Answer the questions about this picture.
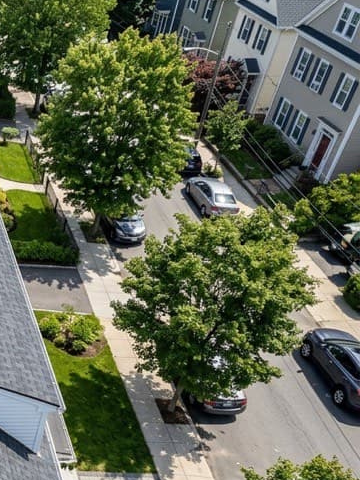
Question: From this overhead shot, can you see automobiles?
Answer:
Yes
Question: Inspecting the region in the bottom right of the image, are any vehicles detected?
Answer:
Yes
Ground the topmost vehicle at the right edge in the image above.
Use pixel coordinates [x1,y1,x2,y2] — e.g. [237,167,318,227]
[322,225,360,266]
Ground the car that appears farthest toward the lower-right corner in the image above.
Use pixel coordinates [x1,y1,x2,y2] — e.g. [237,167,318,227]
[298,328,360,417]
